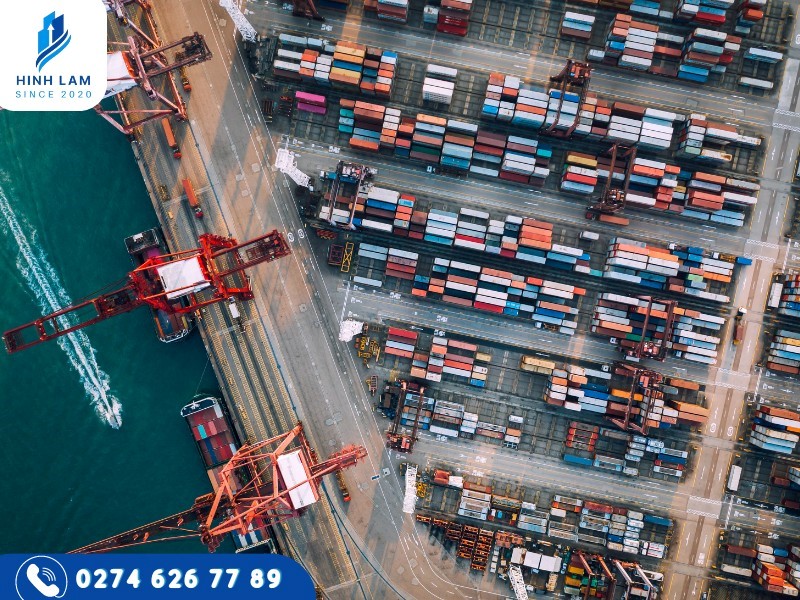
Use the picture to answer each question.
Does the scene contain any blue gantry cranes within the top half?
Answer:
No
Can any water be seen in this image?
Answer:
Yes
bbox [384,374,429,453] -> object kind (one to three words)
container crane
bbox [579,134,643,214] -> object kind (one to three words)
container crane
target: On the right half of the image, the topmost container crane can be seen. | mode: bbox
[535,55,595,141]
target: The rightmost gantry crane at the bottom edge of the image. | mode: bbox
[606,553,660,600]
